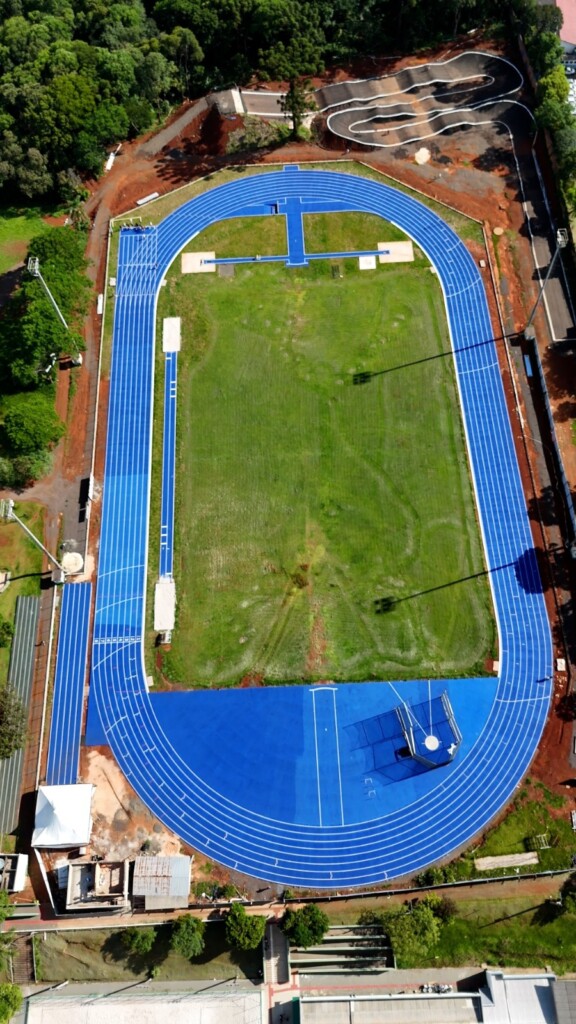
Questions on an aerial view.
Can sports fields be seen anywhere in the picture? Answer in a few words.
Yes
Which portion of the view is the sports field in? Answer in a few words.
center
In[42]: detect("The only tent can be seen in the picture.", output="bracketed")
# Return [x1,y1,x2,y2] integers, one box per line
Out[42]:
[32,784,97,849]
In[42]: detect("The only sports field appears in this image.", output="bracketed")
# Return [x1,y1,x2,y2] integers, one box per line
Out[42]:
[146,209,499,693]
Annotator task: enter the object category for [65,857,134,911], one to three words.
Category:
building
